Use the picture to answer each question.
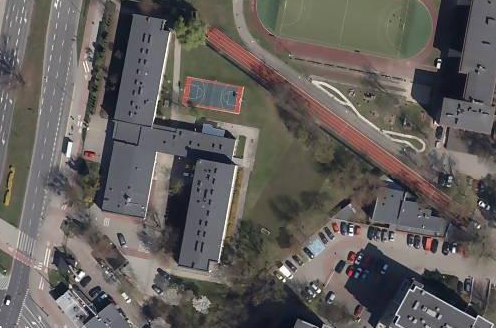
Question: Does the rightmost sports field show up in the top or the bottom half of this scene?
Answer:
top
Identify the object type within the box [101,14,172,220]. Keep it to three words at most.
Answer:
building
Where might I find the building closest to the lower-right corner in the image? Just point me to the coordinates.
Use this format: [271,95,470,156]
[394,286,495,328]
